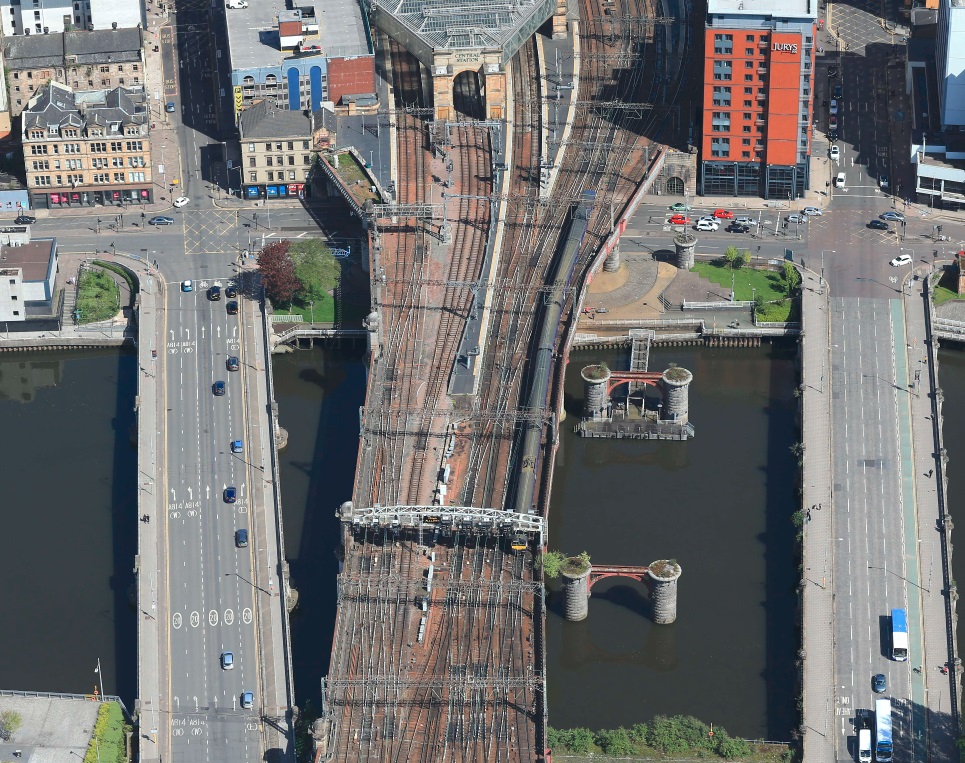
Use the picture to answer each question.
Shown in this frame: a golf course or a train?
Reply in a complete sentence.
It is a train that can be seen here.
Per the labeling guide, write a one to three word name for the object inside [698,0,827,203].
building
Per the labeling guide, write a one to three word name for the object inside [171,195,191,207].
vehicle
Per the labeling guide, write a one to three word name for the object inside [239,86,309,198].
building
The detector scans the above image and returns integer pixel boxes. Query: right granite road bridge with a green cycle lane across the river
[789,300,965,763]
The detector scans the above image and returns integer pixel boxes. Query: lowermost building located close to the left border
[0,224,59,322]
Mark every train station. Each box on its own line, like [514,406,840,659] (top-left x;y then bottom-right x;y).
[352,0,571,119]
